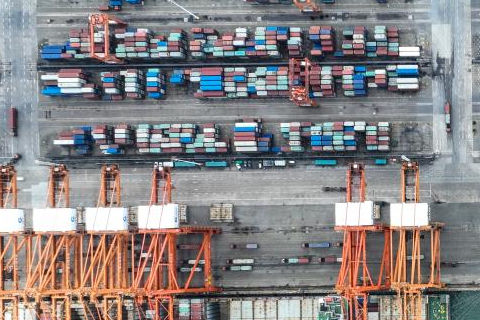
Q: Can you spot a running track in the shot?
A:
No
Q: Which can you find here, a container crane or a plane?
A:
container crane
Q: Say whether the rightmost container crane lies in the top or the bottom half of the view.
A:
bottom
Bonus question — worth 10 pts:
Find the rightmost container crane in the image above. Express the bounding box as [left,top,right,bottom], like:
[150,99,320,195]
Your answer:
[388,159,445,320]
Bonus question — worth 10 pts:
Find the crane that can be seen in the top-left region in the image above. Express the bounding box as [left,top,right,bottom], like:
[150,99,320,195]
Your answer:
[89,14,127,63]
